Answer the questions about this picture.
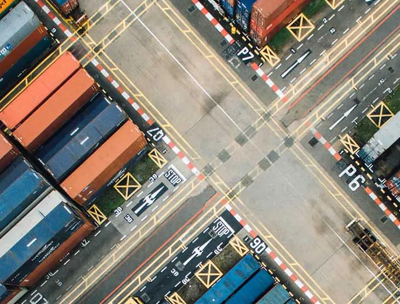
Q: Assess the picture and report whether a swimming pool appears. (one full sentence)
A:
No, I find no swimming pool anywhere in the image.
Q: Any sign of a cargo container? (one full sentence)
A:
Yes, a cargo container can be made out from above.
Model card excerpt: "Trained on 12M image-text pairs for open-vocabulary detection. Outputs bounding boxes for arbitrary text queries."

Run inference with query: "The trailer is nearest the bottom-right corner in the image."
[343,216,400,293]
